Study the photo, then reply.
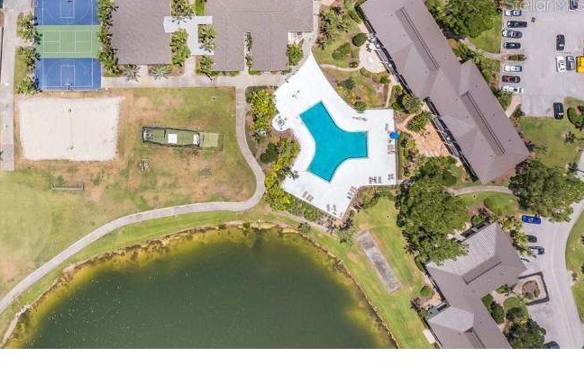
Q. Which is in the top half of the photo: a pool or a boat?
pool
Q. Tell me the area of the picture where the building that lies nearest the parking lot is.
top right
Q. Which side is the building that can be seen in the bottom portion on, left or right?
right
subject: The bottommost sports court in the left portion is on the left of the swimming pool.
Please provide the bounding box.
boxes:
[17,96,122,160]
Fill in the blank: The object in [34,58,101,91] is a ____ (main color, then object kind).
blue basketball court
